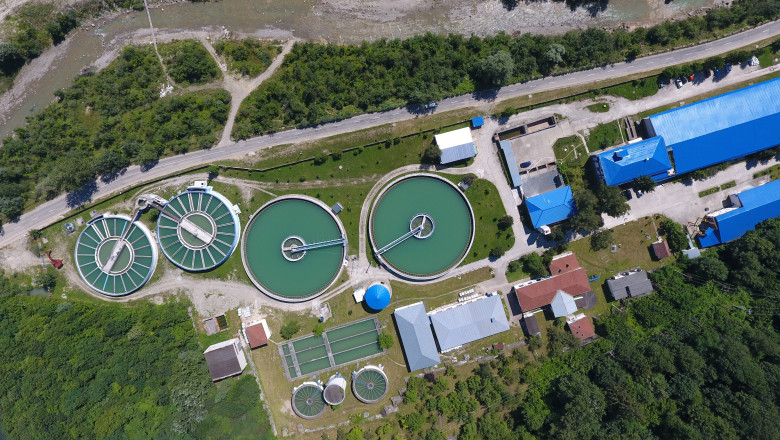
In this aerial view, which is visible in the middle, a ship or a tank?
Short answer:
tank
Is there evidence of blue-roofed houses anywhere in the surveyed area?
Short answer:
Yes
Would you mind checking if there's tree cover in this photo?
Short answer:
Yes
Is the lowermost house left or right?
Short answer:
left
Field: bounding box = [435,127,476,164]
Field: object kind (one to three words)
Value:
building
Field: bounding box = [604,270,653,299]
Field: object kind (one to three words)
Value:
barn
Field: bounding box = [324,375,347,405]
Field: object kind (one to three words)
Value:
silo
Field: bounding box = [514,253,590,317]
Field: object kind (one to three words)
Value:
house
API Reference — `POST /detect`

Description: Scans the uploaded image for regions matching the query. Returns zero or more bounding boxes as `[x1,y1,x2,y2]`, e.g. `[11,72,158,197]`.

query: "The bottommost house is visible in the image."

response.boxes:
[204,340,248,380]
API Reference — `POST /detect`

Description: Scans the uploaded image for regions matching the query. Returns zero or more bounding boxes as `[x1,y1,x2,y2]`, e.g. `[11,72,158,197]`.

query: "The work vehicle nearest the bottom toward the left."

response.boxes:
[49,248,65,269]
